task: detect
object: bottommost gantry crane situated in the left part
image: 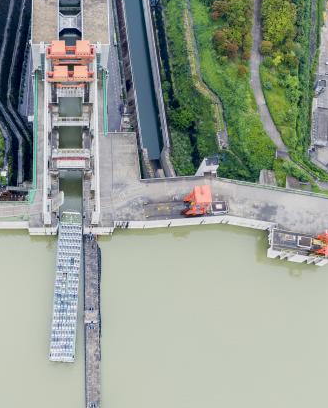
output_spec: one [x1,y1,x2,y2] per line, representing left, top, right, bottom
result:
[42,63,99,97]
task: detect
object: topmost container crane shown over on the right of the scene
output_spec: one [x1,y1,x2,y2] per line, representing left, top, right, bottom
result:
[181,184,217,211]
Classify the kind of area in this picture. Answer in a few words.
port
